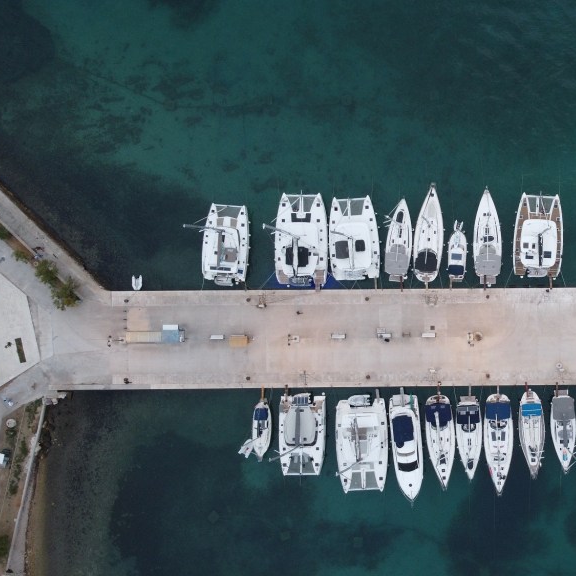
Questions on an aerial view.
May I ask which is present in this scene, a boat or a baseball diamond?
boat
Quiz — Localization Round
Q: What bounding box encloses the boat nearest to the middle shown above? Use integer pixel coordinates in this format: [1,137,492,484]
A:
[287,274,312,288]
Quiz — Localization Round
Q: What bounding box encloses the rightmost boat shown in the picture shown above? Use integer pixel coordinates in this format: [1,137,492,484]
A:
[549,382,576,475]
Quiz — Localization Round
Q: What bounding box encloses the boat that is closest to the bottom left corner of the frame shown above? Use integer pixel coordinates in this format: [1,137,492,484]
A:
[236,439,254,459]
